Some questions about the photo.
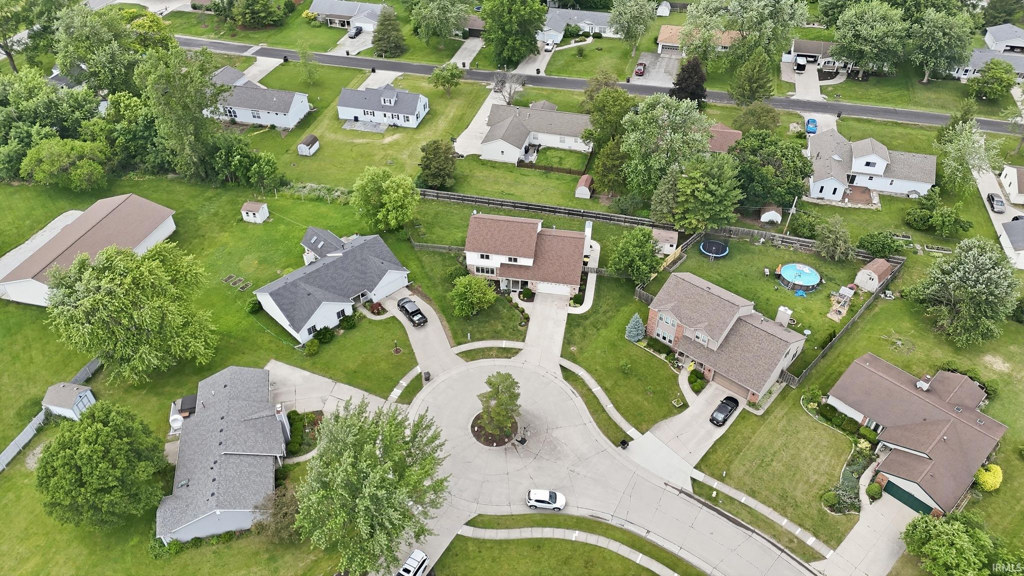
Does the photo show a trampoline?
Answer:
Yes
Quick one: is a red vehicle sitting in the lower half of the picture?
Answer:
No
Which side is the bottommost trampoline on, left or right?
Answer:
right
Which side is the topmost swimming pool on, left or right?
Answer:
right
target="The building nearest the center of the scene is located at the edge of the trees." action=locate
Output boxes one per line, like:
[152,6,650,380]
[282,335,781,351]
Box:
[464,208,595,299]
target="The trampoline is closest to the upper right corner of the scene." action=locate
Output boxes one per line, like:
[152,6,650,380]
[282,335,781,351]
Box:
[700,234,730,259]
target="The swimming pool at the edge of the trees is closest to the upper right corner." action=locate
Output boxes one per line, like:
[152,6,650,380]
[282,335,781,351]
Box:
[776,261,822,295]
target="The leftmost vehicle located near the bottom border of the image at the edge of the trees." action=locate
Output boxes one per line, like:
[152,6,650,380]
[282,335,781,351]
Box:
[395,547,430,576]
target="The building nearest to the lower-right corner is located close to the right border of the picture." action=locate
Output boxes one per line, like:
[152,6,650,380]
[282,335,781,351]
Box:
[827,350,1007,519]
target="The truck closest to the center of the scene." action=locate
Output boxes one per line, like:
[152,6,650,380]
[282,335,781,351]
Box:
[396,297,427,327]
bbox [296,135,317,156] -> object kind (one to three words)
shed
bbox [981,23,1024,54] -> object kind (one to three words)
building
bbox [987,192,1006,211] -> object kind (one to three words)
car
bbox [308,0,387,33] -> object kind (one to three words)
house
